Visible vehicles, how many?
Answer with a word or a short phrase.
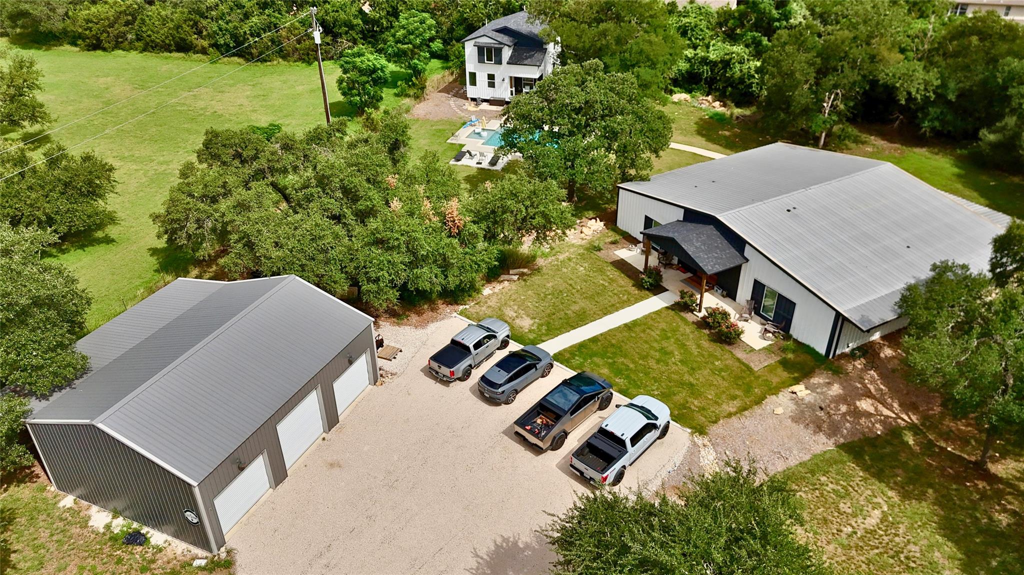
4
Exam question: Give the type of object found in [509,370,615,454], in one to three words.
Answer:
truck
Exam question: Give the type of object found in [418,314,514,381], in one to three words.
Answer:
truck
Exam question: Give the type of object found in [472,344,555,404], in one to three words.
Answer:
car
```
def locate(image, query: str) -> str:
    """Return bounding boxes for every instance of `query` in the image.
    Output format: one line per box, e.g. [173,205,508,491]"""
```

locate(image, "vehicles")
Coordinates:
[472,344,555,404]
[418,314,514,381]
[509,370,615,454]
[564,394,676,489]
